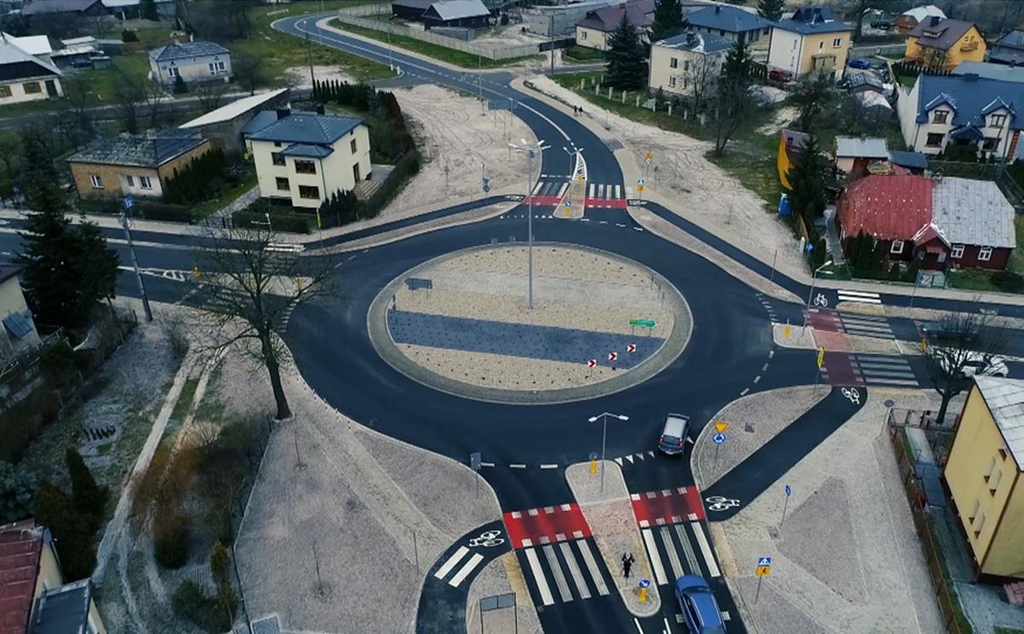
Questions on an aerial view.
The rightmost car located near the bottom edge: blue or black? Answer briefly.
blue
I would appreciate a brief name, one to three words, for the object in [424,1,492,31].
barn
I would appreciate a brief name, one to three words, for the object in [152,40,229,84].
house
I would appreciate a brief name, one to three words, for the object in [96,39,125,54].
shed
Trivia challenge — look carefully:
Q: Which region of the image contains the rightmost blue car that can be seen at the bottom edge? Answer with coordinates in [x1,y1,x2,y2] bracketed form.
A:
[674,574,732,634]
